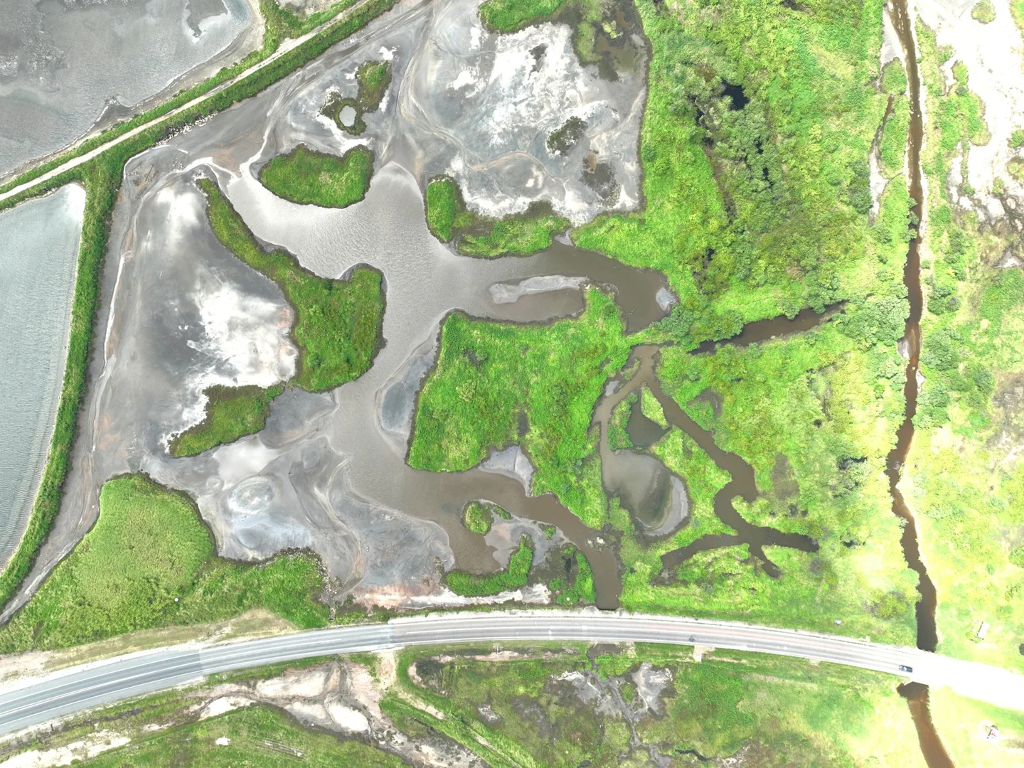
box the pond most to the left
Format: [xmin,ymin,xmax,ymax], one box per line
[0,186,82,570]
